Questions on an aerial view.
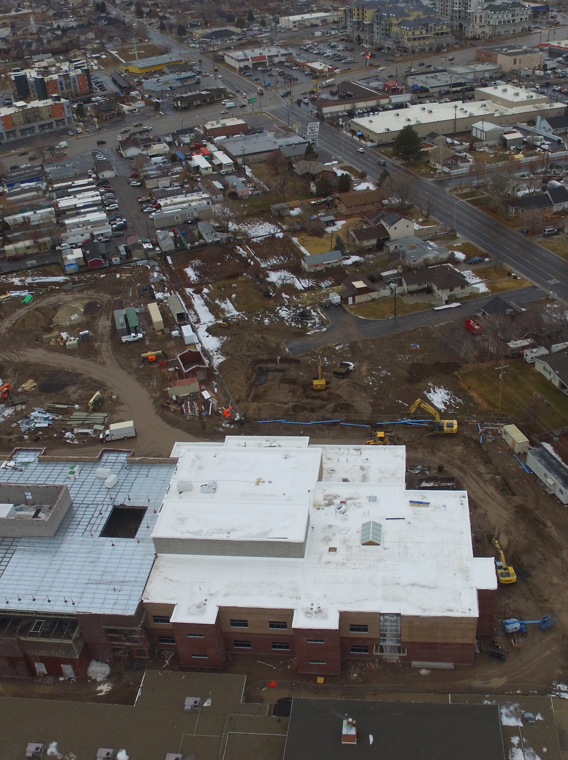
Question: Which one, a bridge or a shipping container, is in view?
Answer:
shipping container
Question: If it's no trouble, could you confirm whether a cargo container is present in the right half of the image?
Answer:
Yes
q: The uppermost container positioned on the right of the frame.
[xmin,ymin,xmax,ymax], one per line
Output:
[502,424,529,453]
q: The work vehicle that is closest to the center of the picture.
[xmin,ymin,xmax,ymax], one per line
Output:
[313,354,327,391]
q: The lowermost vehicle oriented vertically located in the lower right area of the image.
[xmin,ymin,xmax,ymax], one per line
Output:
[495,543,521,595]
